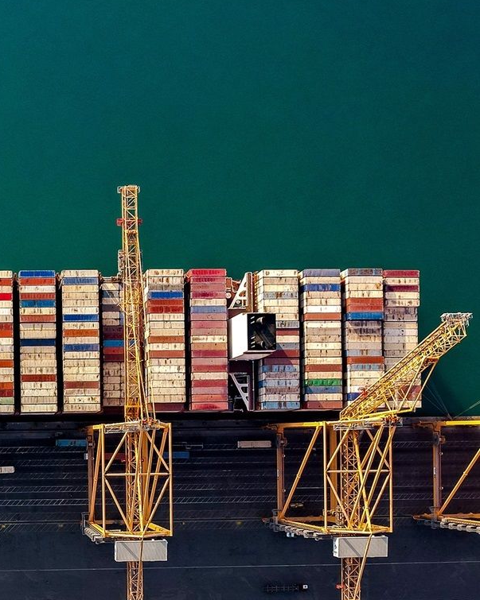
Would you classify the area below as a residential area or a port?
port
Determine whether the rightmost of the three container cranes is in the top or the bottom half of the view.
bottom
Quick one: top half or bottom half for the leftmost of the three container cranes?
bottom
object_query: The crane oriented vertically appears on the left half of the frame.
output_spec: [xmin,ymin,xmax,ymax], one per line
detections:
[66,185,174,600]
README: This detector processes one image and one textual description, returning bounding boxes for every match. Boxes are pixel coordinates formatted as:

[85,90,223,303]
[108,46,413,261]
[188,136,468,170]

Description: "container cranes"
[66,185,174,600]
[250,306,473,600]
[406,418,480,531]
